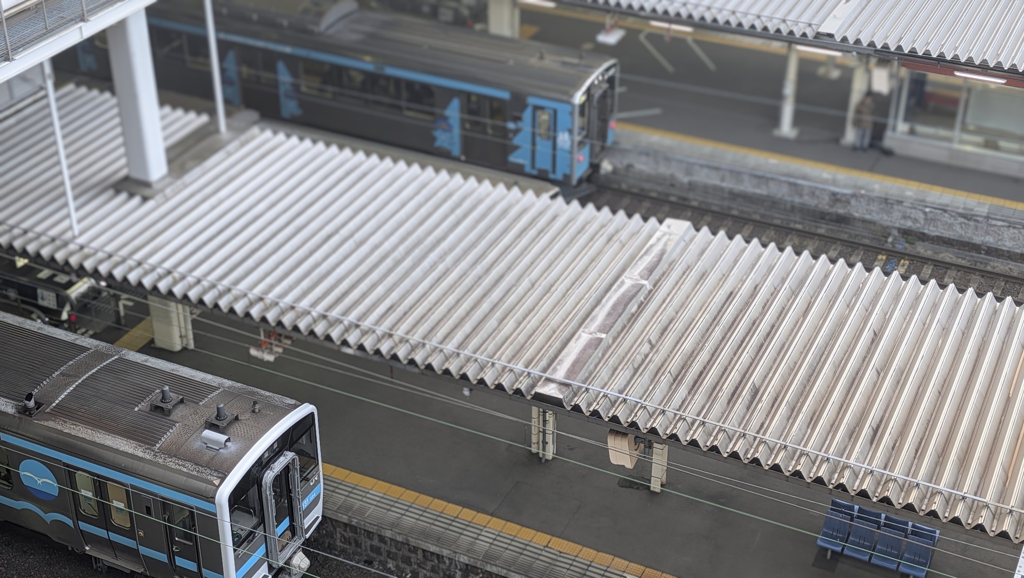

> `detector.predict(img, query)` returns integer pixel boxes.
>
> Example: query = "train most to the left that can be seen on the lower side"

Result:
[0,308,327,578]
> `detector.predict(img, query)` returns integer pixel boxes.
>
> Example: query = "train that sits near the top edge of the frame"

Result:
[70,0,613,202]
